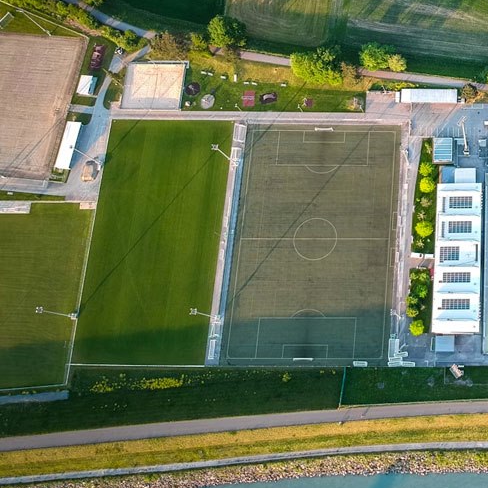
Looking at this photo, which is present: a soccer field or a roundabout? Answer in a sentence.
Looking from above, you can make out a soccer field.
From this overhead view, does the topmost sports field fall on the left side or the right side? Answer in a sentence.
The topmost sports field is on the left side of the image.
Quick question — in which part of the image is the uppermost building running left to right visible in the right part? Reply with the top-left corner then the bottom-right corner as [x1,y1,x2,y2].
[398,89,458,106]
